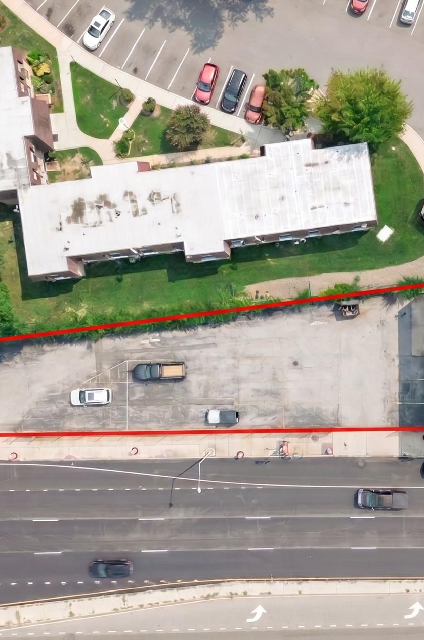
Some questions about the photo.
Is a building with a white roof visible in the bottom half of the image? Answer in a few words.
No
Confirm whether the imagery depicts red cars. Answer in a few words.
Yes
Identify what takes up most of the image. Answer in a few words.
paved ground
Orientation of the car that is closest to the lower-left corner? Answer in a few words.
from left to right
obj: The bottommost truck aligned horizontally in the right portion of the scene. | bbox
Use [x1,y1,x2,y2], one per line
[357,488,410,512]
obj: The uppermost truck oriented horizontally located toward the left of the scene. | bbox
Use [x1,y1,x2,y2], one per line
[132,360,188,382]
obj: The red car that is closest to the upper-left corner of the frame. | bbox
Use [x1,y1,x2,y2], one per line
[194,61,221,105]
